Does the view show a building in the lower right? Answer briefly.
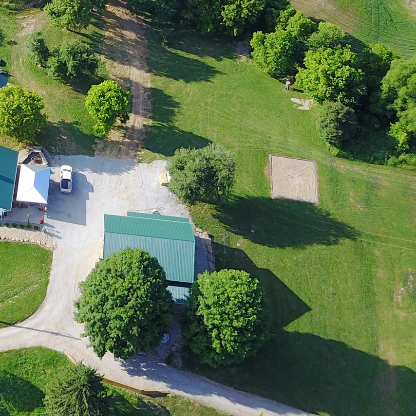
No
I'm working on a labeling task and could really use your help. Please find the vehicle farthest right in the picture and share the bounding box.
[59,164,74,195]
